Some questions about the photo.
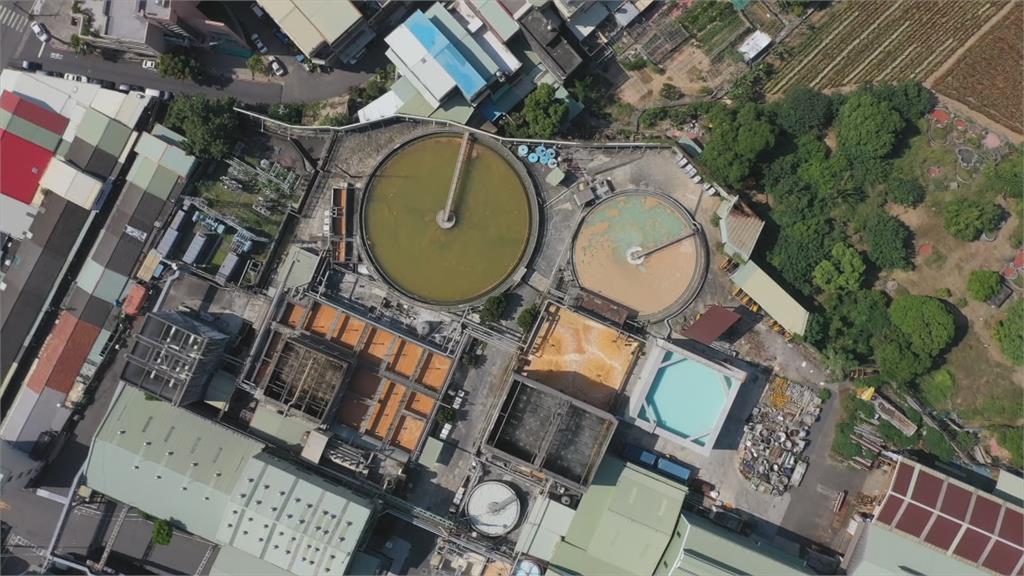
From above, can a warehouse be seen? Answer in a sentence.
Yes, a warehouse is visible in the scene.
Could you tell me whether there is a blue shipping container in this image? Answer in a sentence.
Yes, a blue shipping container appears in the view.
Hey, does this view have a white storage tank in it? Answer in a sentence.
Yes, this view includes a white storage tank.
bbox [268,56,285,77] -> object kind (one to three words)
car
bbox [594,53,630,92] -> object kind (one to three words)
house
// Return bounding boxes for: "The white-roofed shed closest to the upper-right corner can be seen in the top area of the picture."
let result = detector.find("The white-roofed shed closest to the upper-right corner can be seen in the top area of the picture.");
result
[734,31,772,65]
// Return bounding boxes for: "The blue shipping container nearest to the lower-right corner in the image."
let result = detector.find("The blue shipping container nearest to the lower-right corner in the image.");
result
[655,454,692,481]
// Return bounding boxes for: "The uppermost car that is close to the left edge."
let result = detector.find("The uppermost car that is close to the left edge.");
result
[30,20,49,41]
